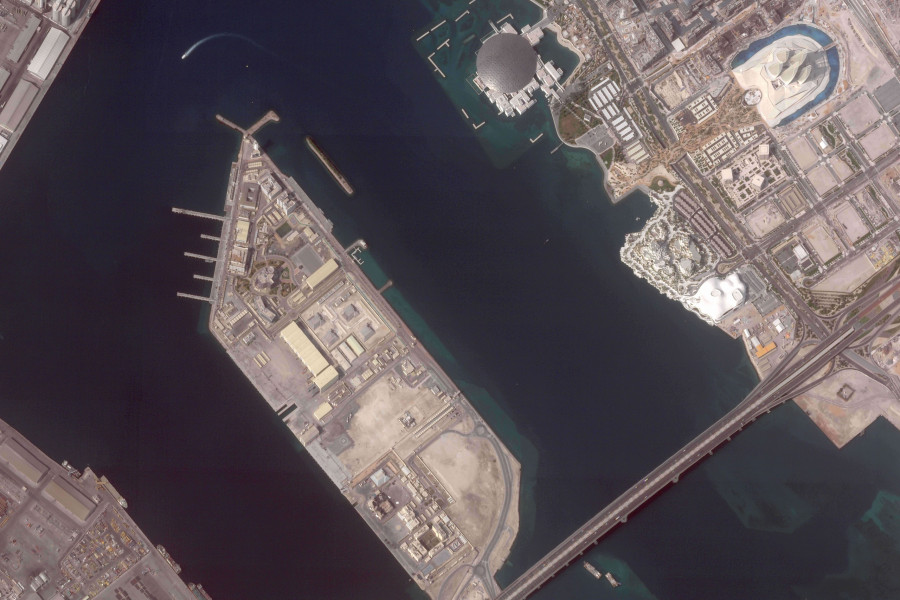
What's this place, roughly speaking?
port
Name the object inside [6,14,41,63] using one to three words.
building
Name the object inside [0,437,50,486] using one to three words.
building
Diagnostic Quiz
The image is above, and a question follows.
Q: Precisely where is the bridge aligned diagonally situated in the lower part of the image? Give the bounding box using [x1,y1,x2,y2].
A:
[492,300,886,600]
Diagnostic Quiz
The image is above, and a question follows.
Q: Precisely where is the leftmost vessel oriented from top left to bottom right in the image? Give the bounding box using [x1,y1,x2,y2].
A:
[62,460,82,478]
